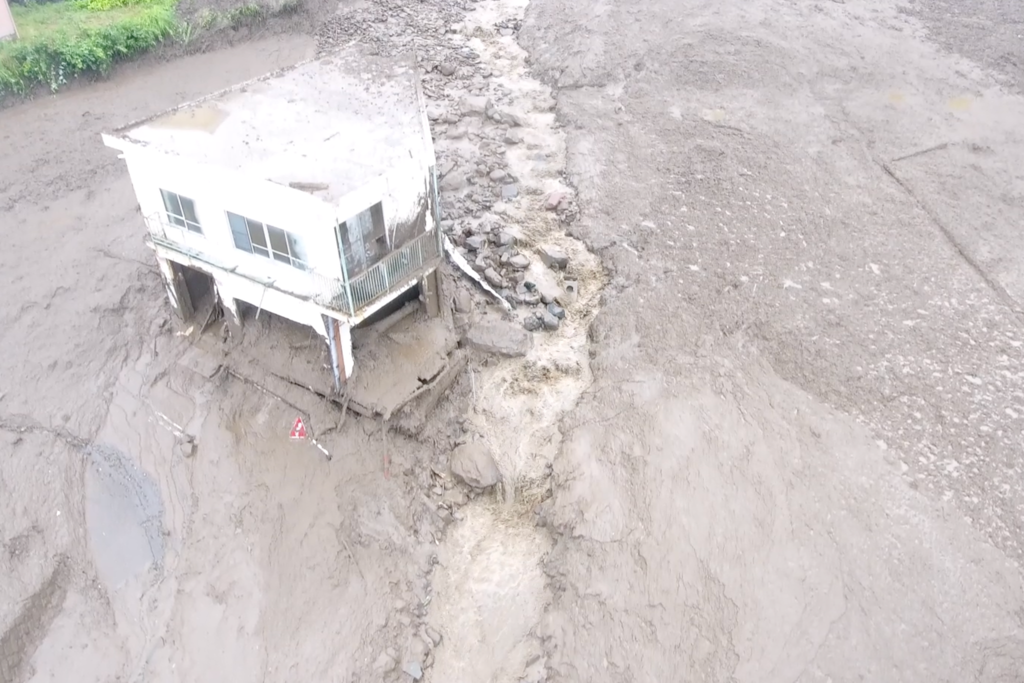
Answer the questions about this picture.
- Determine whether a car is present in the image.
No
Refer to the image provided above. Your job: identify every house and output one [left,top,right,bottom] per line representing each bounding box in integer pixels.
[0,0,20,40]
[99,41,476,441]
